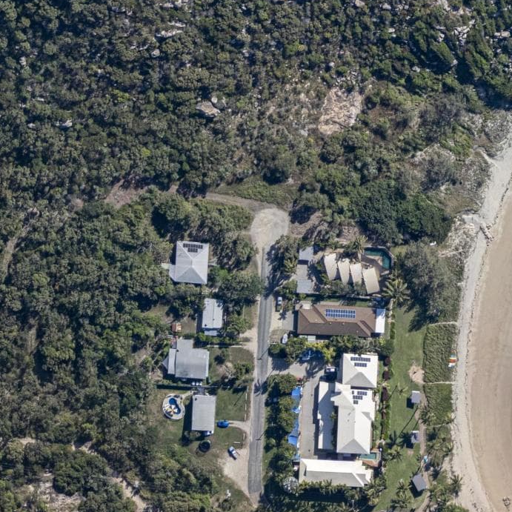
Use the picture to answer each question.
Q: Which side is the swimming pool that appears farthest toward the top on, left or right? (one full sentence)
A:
The swimming pool that appears farthest toward the top is on the right side of the image.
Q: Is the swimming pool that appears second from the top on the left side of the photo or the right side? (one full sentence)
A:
The swimming pool that appears second from the top sits on the left side.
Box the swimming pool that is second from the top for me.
[162,394,185,419]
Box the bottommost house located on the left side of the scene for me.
[191,395,217,431]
